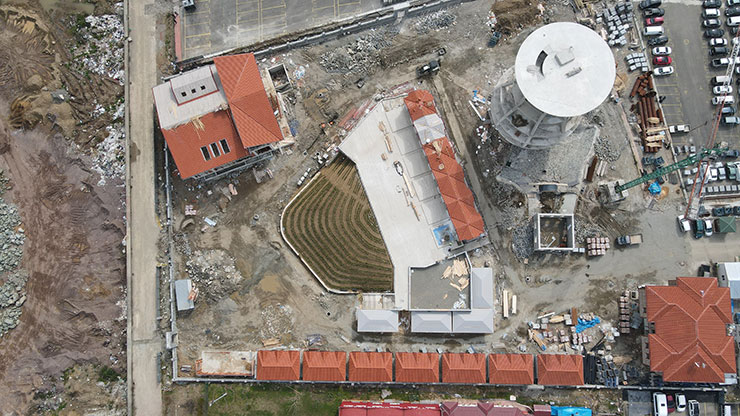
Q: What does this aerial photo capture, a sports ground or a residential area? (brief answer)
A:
residential area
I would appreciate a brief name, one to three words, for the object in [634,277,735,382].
building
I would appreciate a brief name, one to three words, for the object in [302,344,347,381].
house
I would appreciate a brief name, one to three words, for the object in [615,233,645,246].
vehicle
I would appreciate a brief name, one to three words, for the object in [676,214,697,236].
truck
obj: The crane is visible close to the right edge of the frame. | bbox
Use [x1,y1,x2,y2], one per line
[604,14,740,224]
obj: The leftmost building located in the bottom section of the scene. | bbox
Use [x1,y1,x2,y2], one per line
[175,280,197,310]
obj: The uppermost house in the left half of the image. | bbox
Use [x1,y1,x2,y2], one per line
[152,53,291,185]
